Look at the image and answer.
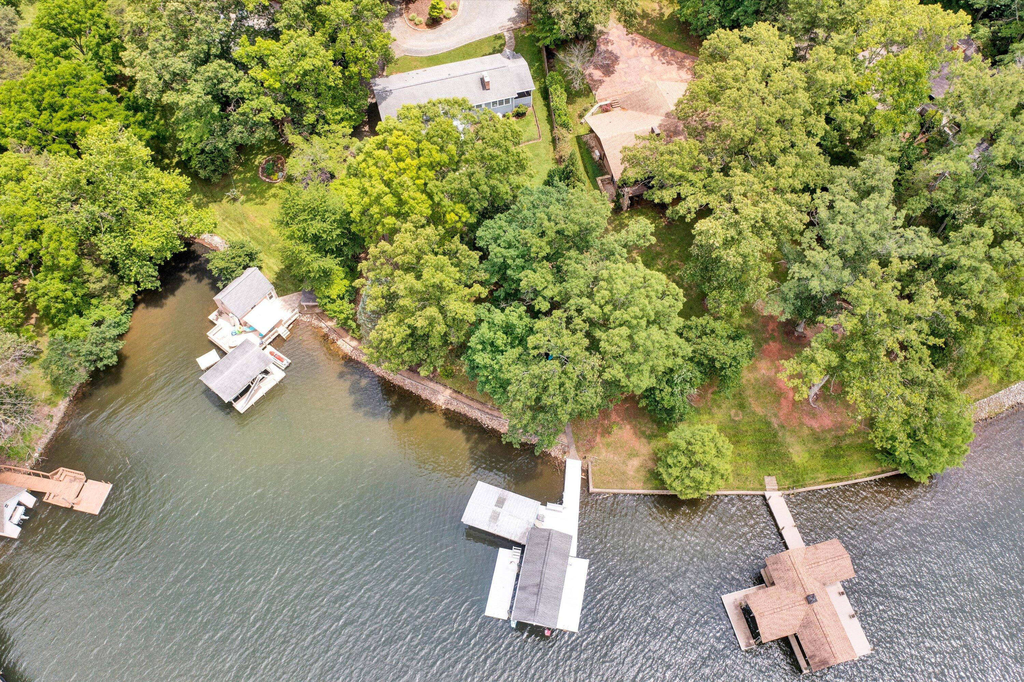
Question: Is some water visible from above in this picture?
Yes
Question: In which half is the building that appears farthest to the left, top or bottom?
bottom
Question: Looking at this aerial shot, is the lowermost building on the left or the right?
right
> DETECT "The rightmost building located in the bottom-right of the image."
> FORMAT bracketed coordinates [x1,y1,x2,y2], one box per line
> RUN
[720,538,873,674]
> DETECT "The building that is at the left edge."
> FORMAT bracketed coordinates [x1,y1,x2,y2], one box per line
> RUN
[0,485,40,541]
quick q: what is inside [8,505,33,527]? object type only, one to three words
boat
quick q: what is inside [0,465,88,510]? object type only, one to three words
pier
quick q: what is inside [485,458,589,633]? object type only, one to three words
pier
